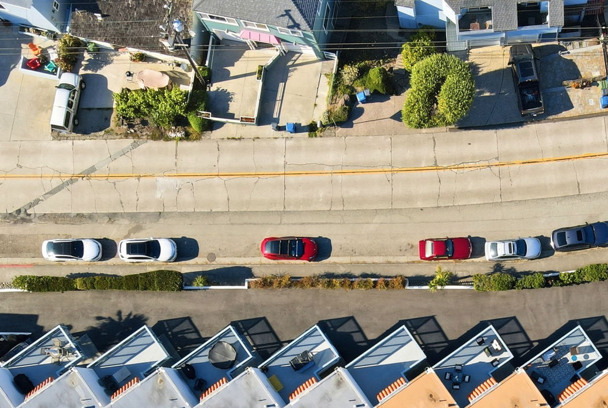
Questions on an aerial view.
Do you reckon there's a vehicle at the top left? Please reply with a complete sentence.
Yes, a vehicle is visible at the top left.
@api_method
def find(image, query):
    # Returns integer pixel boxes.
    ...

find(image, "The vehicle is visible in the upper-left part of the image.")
[49,70,84,136]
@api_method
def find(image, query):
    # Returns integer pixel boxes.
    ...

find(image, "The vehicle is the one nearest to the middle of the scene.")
[261,234,319,262]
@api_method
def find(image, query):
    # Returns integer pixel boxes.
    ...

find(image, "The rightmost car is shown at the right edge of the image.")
[551,221,608,253]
